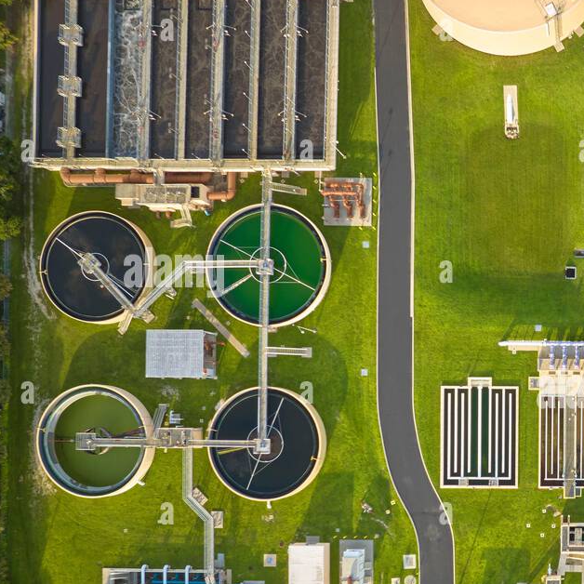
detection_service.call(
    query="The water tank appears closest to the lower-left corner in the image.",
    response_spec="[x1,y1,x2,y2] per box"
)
[37,383,159,498]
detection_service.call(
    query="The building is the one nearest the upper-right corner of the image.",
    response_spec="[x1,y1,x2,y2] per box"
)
[320,172,372,227]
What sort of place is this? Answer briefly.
industrial area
